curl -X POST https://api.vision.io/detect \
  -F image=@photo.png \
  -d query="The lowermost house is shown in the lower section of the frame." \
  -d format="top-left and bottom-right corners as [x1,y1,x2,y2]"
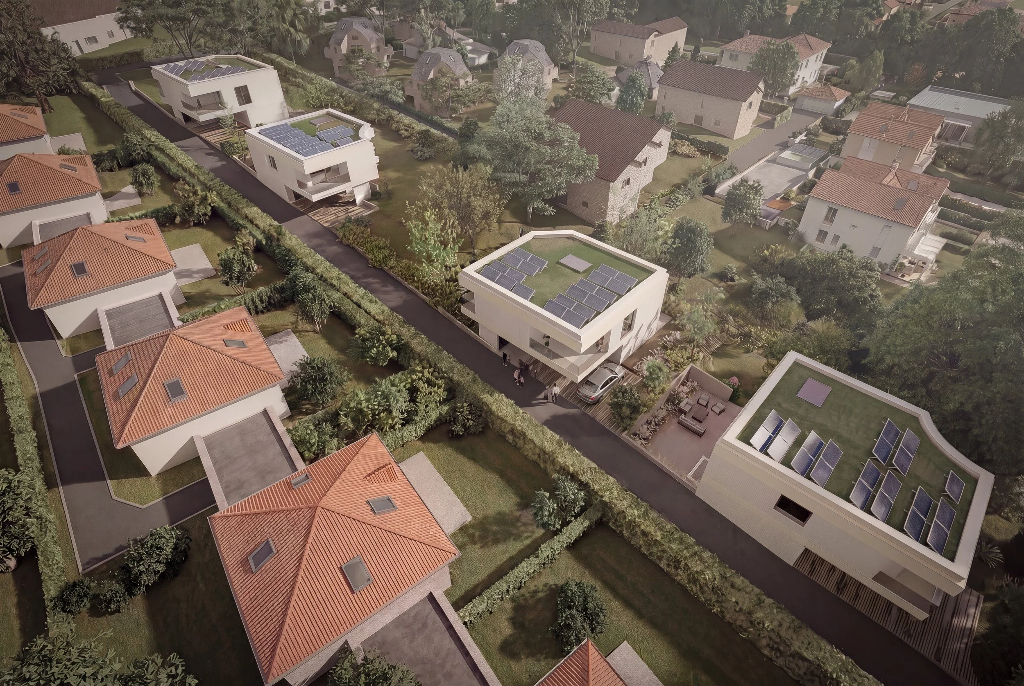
[529,637,628,686]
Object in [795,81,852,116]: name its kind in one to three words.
building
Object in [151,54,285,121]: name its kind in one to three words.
house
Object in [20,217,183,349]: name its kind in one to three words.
house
